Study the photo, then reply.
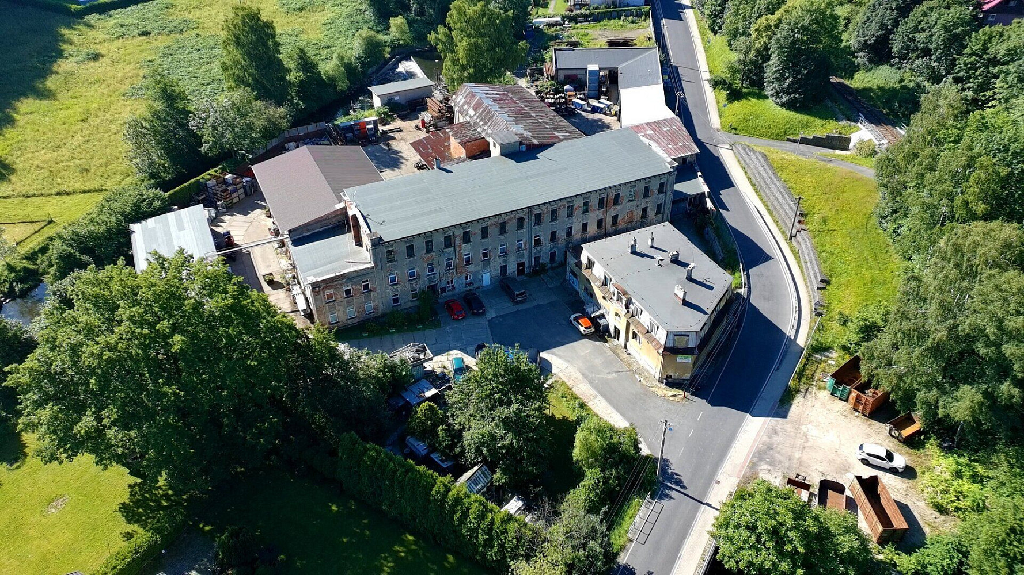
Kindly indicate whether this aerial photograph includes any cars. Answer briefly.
Yes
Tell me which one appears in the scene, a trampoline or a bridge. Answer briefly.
bridge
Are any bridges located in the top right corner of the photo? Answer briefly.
Yes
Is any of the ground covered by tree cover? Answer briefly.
Yes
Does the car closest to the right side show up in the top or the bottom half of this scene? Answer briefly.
bottom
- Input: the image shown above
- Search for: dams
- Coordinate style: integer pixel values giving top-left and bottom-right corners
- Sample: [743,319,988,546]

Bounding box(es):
[392,56,434,82]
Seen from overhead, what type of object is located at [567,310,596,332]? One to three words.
car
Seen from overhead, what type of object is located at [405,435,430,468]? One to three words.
shed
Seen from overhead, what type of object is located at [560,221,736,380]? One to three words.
house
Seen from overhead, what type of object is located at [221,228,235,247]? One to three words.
work vehicle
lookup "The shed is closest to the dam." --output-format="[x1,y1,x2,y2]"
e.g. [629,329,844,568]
[368,77,435,110]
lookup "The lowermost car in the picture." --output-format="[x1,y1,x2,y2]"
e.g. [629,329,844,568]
[858,444,908,473]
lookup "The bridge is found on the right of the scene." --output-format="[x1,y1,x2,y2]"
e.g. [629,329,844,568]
[826,106,908,142]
